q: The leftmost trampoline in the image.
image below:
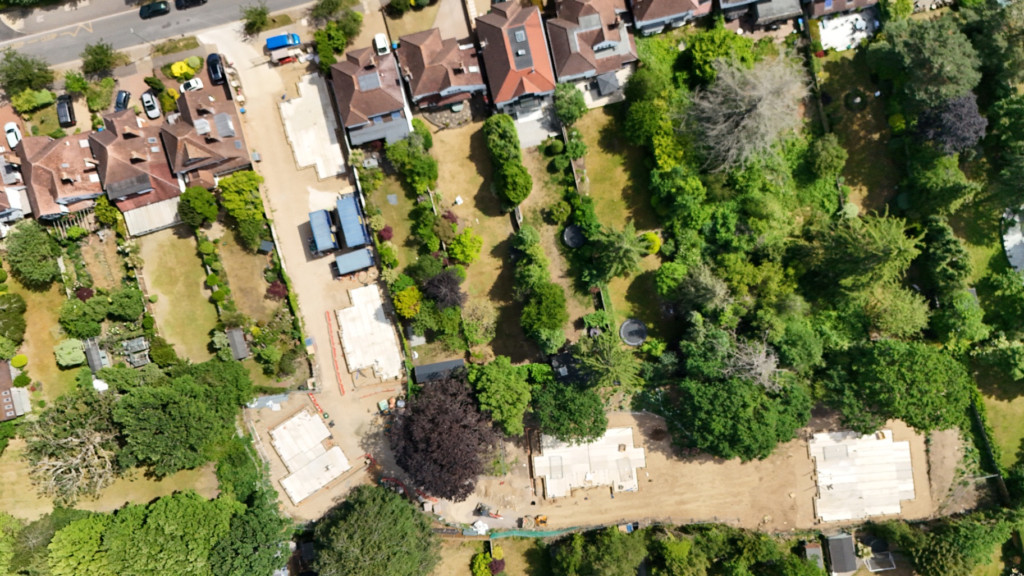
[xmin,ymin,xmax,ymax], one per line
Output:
[563,226,584,247]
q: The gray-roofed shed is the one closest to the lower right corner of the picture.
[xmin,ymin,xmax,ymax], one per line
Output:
[823,532,857,573]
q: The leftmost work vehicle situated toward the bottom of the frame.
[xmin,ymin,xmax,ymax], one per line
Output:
[477,501,506,520]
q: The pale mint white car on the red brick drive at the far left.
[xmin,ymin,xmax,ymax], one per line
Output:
[5,121,22,149]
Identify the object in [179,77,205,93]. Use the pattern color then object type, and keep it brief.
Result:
white car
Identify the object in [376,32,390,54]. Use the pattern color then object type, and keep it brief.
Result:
white car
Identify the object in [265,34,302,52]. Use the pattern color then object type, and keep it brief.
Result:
blue vehicle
